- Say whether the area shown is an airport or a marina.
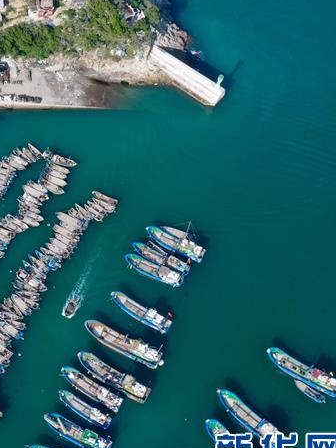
marina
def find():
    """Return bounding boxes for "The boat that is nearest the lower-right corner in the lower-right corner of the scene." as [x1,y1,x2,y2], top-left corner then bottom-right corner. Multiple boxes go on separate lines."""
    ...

[295,380,327,404]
